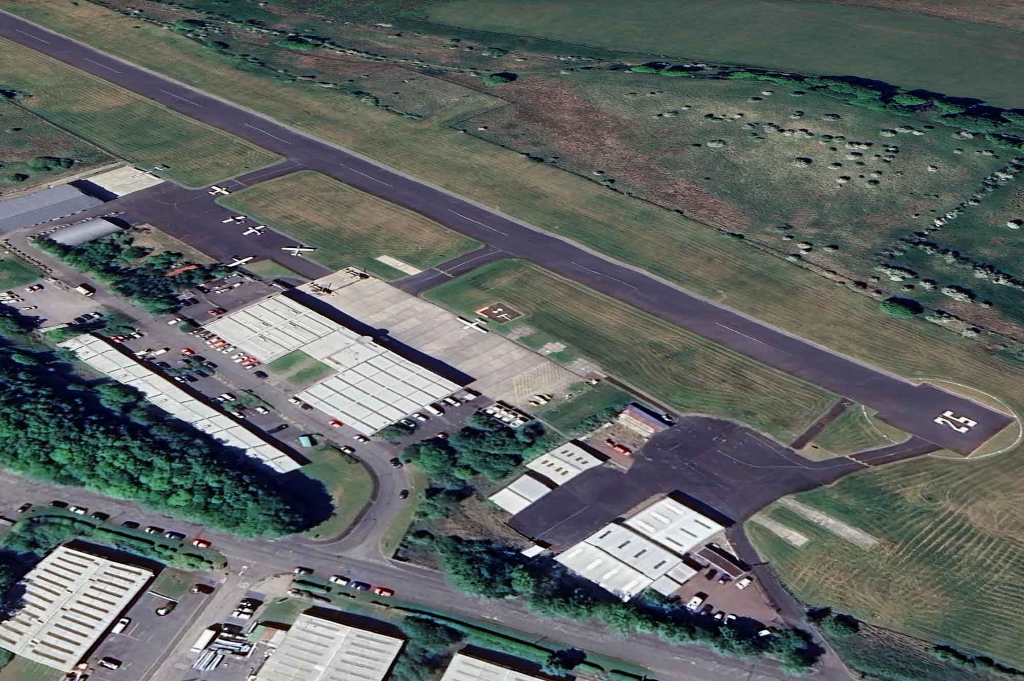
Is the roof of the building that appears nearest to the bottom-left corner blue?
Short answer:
No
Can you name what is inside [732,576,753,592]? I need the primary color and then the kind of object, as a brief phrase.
white vehicle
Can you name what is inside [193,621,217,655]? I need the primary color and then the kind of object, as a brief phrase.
white truck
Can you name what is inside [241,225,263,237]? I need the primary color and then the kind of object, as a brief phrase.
white airplane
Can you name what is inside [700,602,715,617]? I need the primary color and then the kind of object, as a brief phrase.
black car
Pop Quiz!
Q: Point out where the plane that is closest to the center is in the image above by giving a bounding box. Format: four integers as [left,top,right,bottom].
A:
[459,314,486,334]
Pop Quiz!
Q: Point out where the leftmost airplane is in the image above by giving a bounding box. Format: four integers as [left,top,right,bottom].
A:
[136,165,158,179]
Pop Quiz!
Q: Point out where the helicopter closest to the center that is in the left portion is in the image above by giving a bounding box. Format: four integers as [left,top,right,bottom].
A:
[350,265,375,283]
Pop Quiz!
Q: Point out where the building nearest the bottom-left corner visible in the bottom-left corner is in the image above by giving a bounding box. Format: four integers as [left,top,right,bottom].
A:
[0,547,157,681]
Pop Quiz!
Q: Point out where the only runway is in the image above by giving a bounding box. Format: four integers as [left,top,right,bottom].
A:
[0,10,1015,457]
